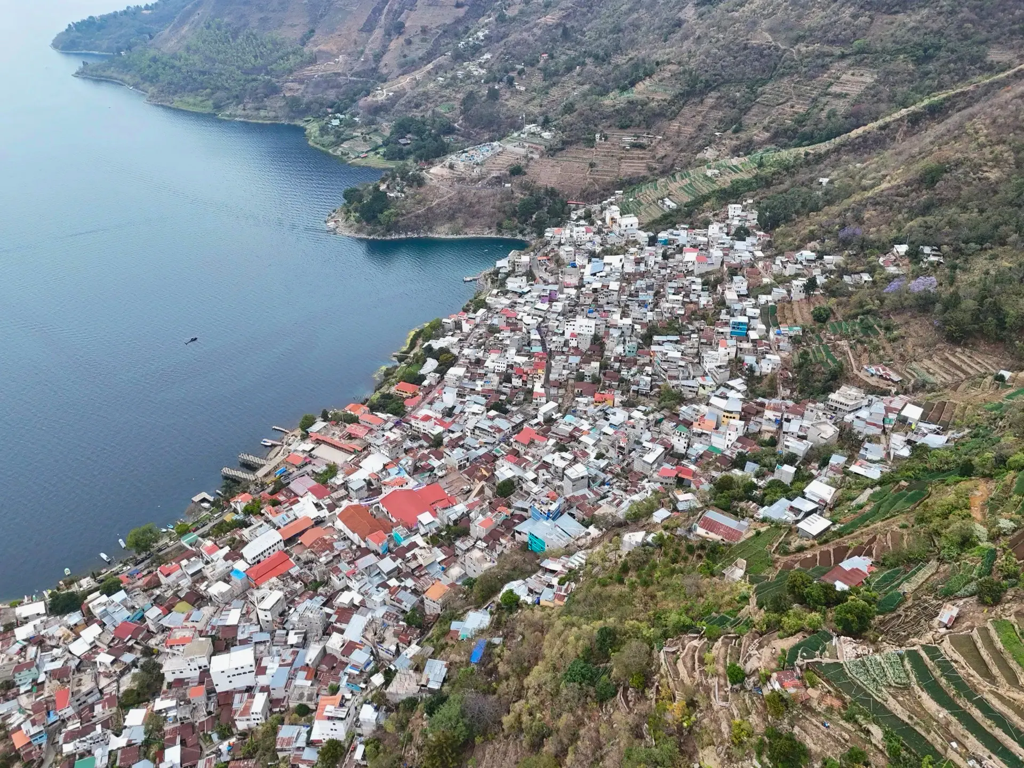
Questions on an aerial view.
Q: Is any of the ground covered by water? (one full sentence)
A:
Yes, water can be seen from above here.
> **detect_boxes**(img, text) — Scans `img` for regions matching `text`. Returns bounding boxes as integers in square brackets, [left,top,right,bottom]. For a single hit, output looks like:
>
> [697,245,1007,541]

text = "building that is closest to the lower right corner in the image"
[932,600,964,632]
